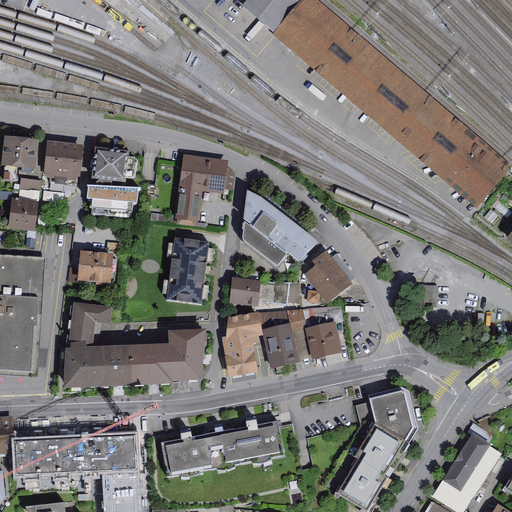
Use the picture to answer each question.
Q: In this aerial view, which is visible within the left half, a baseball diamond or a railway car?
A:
railway car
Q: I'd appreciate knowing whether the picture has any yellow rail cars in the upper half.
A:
Yes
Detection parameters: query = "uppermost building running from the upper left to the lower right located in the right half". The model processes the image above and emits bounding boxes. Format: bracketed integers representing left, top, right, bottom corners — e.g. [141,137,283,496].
[273,0,510,208]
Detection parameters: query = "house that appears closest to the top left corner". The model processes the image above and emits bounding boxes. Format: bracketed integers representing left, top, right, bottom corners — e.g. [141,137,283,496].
[2,135,39,168]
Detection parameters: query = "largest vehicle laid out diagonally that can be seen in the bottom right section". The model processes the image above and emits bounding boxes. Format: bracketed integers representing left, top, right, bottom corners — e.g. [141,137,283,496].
[468,360,503,389]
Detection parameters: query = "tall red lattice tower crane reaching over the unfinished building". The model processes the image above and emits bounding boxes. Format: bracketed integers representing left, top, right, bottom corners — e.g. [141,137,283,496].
[0,404,158,472]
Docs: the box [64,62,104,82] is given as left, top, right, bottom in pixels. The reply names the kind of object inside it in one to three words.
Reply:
rail car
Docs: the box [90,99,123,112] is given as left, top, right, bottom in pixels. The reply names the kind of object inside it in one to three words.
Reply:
rail car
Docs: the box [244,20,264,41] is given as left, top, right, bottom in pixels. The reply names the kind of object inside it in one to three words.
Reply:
vehicle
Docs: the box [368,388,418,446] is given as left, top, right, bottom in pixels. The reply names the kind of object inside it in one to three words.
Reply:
building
